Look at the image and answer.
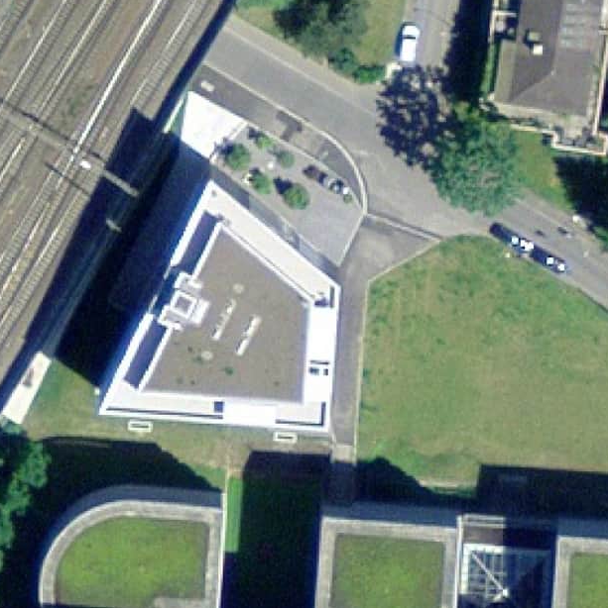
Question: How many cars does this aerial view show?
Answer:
3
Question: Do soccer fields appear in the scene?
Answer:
No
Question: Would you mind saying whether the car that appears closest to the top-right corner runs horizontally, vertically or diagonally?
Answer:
vertically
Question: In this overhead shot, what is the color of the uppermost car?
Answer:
white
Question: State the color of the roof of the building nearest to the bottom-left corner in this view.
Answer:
green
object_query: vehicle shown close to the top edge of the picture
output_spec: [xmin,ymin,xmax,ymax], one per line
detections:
[399,21,421,63]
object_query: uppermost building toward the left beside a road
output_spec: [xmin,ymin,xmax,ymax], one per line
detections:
[88,150,339,432]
